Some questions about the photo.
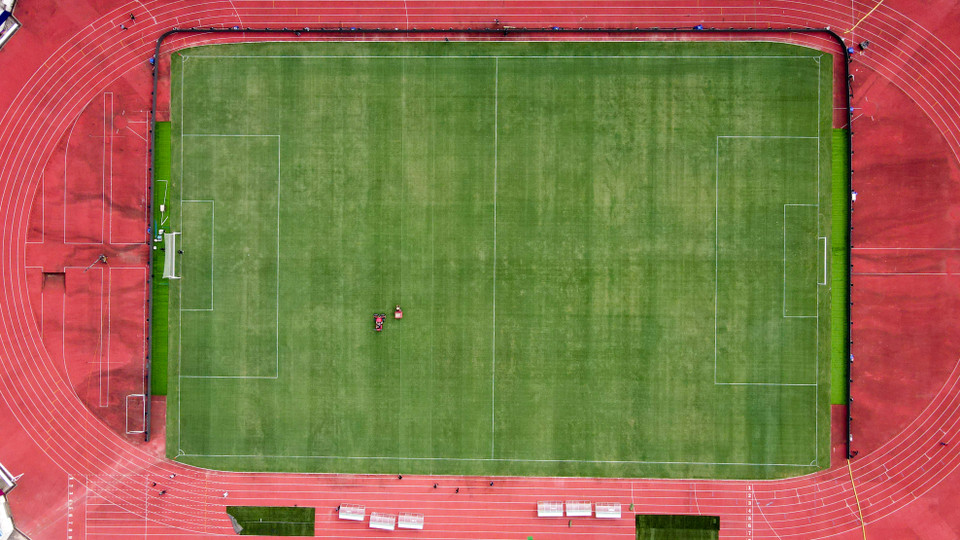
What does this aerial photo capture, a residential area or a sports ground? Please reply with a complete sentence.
It's a sports ground.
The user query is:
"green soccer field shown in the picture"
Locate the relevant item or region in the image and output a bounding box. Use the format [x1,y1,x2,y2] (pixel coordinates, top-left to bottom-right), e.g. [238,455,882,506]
[166,42,832,480]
